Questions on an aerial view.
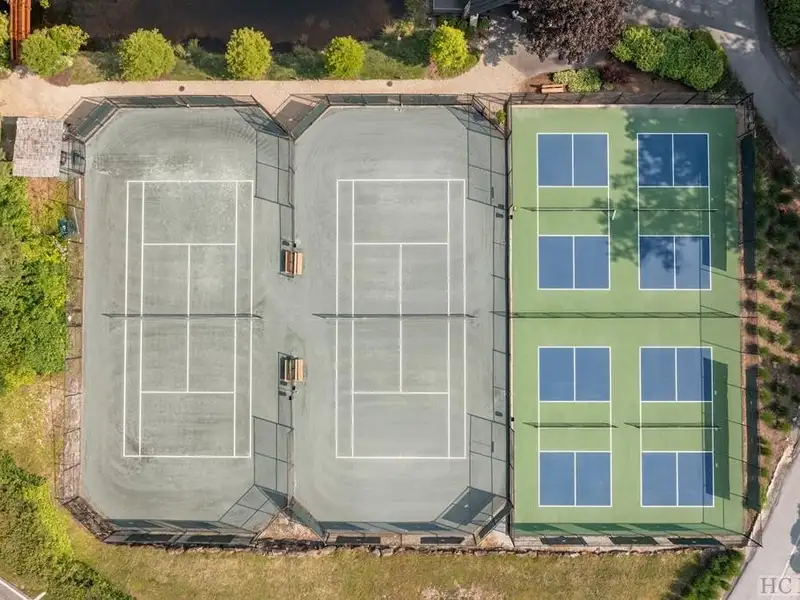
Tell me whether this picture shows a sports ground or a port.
sports ground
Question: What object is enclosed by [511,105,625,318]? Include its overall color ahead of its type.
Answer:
green sports court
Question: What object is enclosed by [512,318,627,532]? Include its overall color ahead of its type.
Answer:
green sports court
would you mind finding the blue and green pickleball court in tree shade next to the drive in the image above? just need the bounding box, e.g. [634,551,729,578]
[623,105,741,318]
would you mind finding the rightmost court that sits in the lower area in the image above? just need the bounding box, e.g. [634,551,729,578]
[625,318,745,532]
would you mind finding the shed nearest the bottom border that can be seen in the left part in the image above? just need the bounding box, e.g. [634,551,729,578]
[11,117,73,180]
